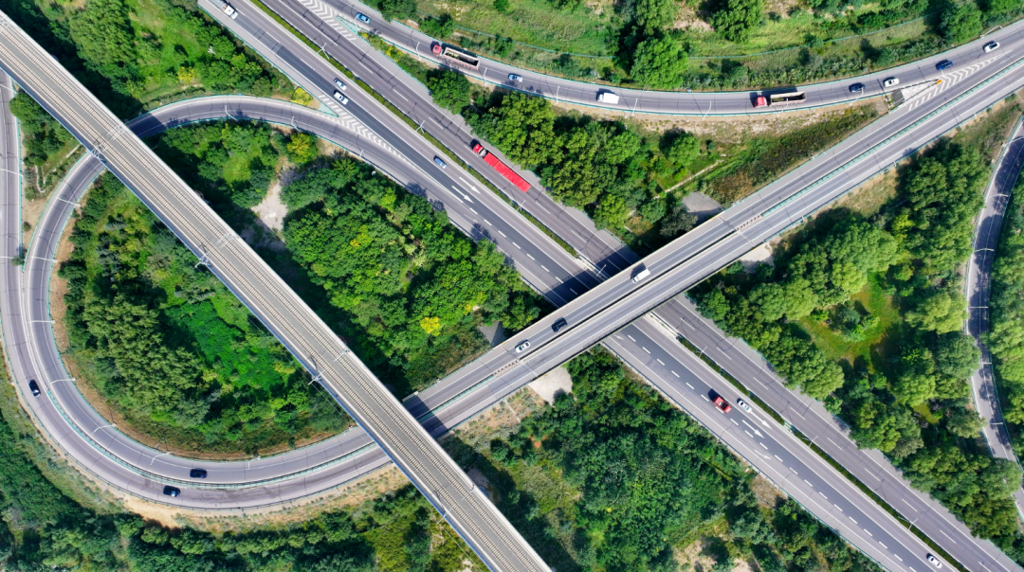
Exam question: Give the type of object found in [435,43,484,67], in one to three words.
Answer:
truck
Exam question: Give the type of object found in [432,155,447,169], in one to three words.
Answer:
car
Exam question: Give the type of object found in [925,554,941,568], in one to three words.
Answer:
car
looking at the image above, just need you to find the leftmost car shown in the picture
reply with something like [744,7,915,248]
[29,379,41,396]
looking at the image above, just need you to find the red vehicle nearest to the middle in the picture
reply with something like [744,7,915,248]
[473,141,536,195]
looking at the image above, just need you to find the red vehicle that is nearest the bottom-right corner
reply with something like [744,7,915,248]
[713,396,731,412]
